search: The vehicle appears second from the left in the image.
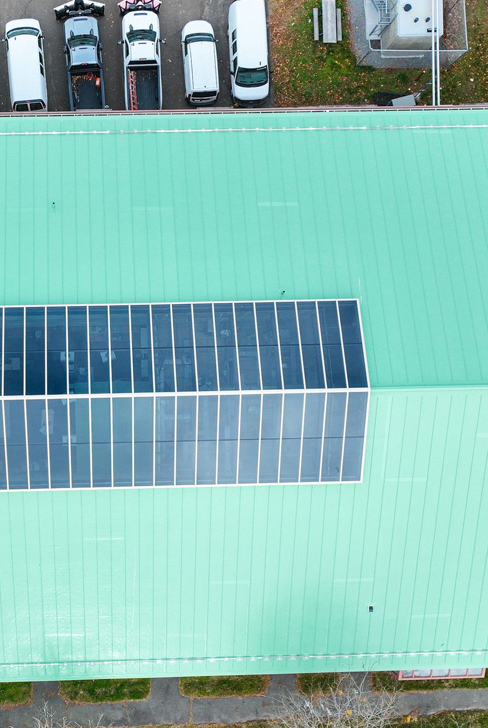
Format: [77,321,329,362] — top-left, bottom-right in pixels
[55,0,109,112]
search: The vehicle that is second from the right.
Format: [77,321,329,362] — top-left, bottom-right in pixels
[179,21,222,107]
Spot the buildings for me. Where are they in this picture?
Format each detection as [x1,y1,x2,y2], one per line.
[0,105,488,684]
[372,0,442,55]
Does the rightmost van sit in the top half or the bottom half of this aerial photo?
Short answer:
top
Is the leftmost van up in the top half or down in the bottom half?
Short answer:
top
